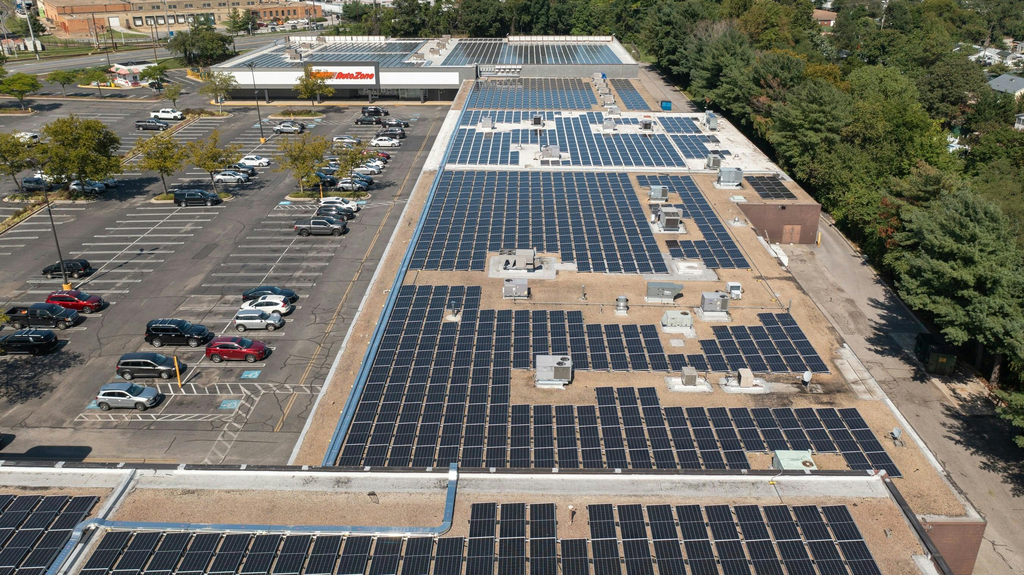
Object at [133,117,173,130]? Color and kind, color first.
gray vehicle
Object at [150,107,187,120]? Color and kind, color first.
white vehicle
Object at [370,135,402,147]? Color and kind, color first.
white vehicle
